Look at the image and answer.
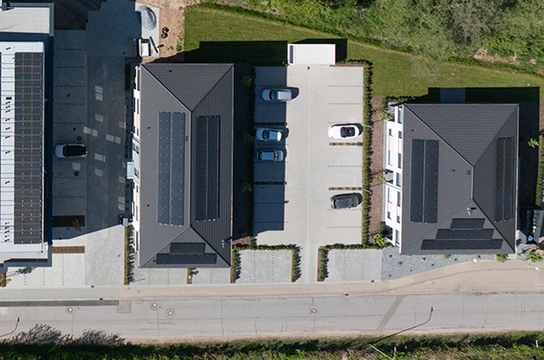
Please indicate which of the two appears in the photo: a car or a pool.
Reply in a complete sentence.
I can see a car in this picture.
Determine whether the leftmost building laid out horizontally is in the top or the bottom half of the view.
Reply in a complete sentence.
You can find the leftmost building laid out horizontally in the top half.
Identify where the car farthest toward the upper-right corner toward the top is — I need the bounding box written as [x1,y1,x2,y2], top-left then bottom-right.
[326,123,360,140]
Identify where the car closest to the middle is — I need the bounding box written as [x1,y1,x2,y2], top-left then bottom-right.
[254,148,285,164]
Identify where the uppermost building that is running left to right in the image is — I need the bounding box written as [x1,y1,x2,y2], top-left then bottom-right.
[283,43,335,66]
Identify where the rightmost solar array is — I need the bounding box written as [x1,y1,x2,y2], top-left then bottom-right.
[491,137,514,222]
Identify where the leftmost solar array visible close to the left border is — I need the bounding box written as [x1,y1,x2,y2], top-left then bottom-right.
[14,53,42,242]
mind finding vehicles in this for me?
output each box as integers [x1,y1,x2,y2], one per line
[254,148,285,164]
[55,143,88,159]
[326,123,360,140]
[259,87,292,103]
[327,191,362,209]
[254,127,283,142]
